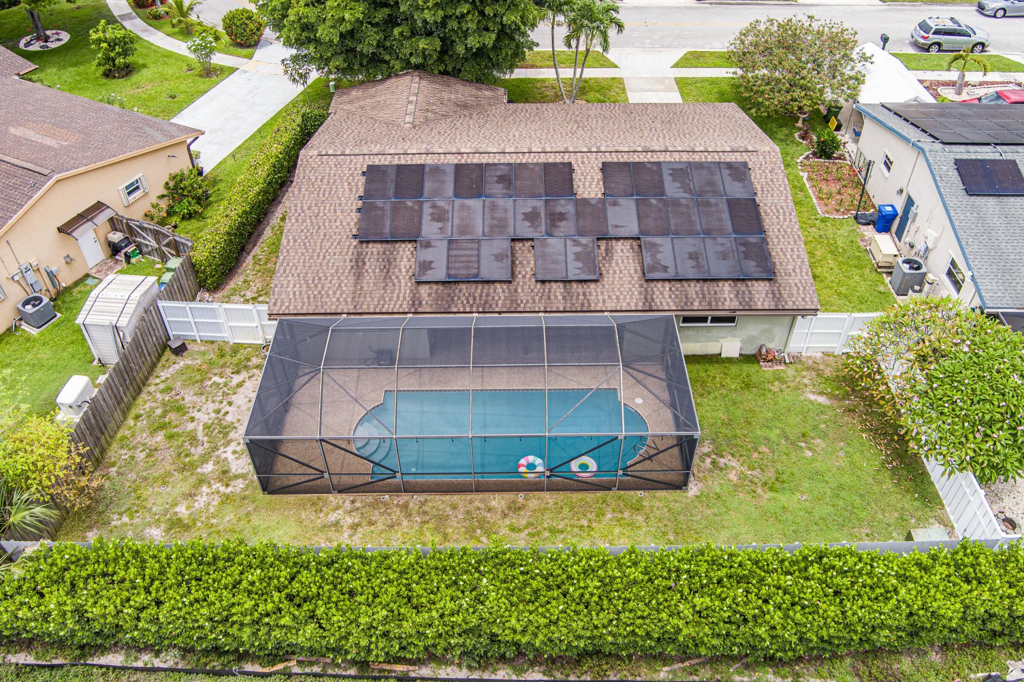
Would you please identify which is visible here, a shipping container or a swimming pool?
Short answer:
swimming pool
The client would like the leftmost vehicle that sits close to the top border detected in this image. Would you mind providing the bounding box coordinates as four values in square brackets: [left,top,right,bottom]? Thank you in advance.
[909,10,1000,50]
